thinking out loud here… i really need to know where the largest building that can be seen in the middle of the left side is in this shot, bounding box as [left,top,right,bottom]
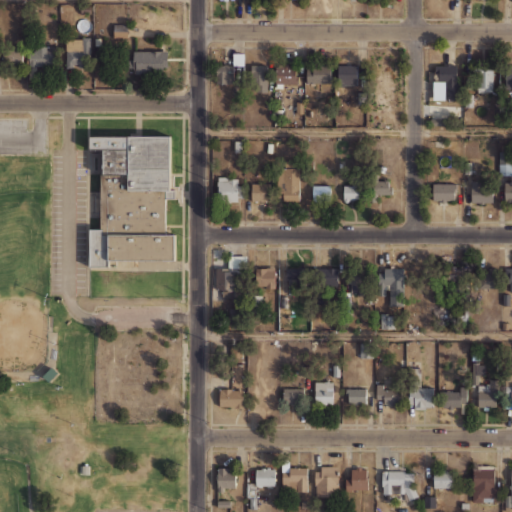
[89,136,176,268]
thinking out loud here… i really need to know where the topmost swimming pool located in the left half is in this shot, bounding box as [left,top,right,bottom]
[78,19,92,34]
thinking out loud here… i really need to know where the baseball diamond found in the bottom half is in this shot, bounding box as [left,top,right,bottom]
[0,296,48,373]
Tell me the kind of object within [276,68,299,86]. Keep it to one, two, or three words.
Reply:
house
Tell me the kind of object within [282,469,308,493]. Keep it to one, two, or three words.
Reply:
house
